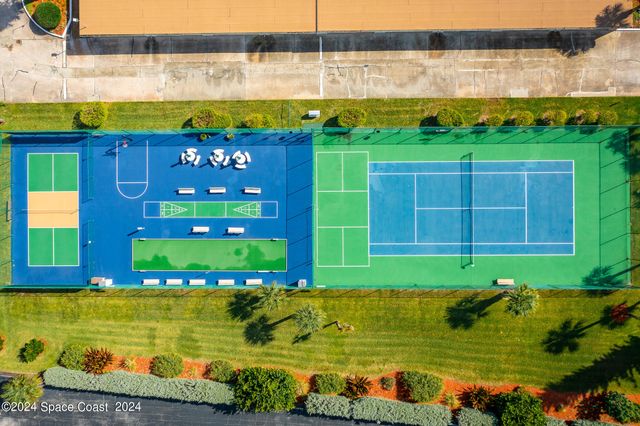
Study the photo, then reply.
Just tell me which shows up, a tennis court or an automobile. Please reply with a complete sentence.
Of the two, only a tennis court appears.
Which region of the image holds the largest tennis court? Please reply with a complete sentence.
Look in the right portion of the view to spot the largest tennis court.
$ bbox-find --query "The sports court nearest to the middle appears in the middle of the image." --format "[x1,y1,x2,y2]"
[316,151,369,266]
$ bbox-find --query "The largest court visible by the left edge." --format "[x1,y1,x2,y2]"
[27,153,79,266]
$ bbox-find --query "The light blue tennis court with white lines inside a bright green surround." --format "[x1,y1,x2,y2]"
[314,129,630,289]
